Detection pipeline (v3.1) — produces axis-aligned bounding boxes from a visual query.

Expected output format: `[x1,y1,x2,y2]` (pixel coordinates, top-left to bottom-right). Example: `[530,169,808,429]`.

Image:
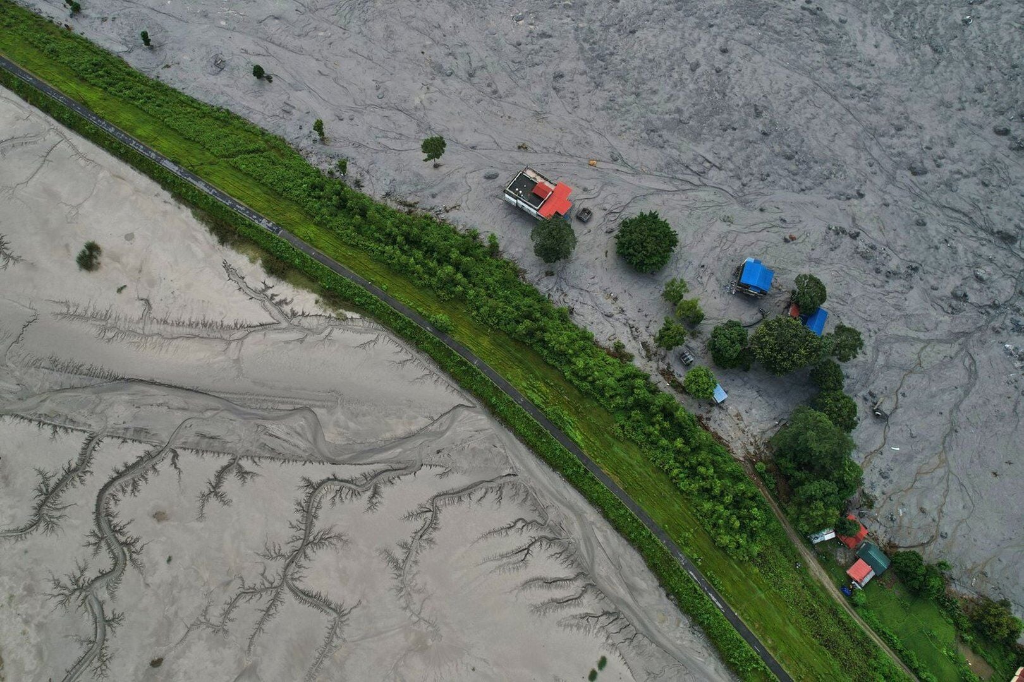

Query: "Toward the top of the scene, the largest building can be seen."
[505,167,572,223]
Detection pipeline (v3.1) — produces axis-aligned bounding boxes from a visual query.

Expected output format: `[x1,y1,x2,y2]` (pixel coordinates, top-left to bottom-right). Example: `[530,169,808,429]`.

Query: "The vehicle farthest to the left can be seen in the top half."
[577,208,591,223]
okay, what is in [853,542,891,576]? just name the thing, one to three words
building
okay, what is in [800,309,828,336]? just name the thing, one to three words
house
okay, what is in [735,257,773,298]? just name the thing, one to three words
house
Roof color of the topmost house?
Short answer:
red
